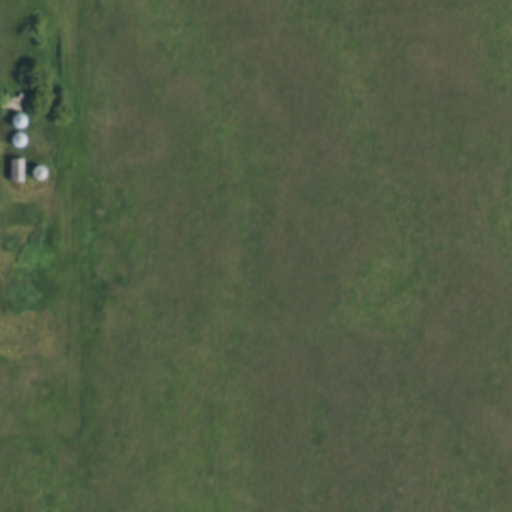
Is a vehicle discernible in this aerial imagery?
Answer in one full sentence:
No, the scene contains no vehicle.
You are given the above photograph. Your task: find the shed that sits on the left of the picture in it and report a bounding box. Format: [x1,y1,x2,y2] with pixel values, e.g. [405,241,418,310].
[12,158,26,182]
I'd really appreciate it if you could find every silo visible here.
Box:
[12,132,28,148]
[12,113,29,130]
[34,165,49,181]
